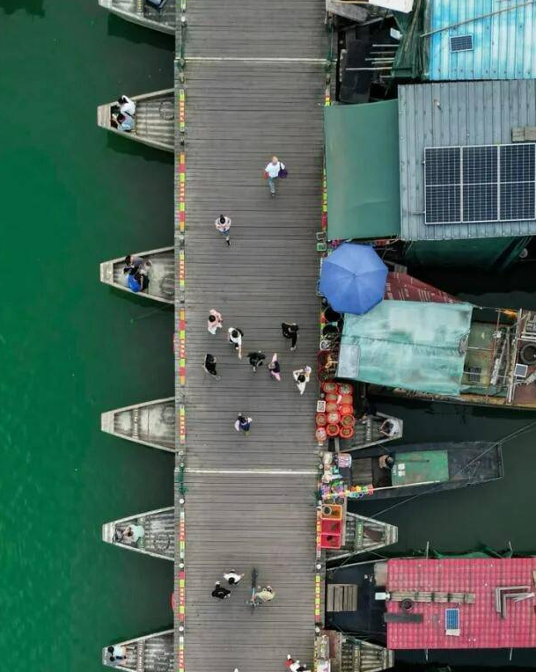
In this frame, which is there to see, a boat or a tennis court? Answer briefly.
boat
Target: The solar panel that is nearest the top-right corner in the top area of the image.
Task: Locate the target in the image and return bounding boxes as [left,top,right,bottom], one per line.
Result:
[448,34,473,52]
